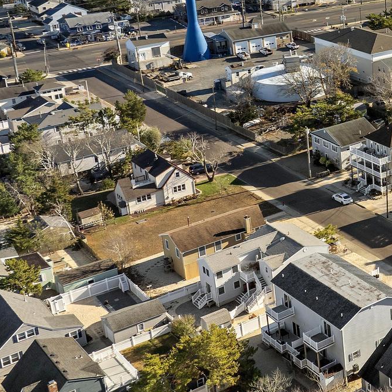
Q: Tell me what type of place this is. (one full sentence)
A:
The area seen from above is a residential area.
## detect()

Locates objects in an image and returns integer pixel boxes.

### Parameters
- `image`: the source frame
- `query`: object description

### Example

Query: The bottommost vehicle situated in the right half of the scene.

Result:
[330,192,352,206]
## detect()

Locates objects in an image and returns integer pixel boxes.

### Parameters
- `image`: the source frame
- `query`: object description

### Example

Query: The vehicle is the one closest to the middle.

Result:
[186,162,208,175]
